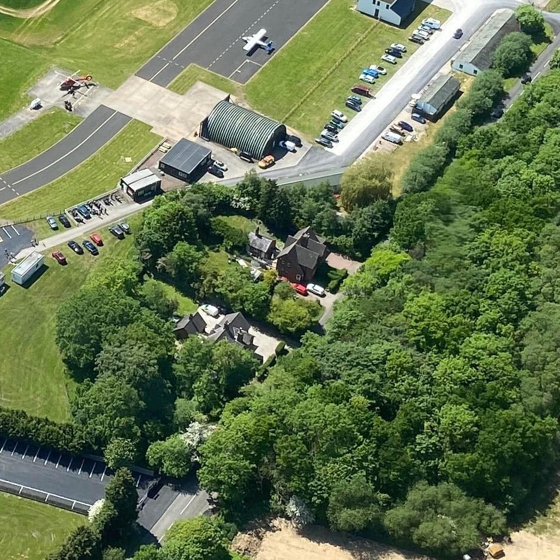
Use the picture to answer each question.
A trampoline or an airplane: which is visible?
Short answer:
airplane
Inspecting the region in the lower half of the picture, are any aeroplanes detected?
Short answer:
No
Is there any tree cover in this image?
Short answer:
Yes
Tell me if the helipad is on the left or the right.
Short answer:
left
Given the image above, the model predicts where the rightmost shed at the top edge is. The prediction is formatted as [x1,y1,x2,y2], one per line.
[454,9,526,75]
